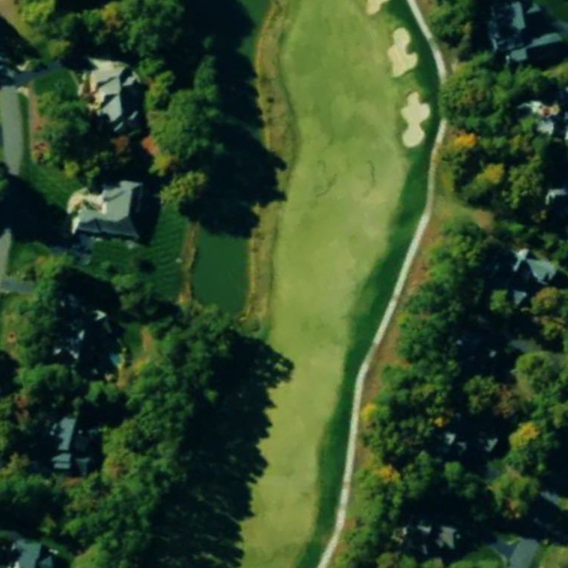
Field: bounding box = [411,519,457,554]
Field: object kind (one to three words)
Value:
house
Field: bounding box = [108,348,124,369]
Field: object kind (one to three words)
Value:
swimming pool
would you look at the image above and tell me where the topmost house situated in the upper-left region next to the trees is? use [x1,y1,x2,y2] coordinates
[92,56,141,120]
